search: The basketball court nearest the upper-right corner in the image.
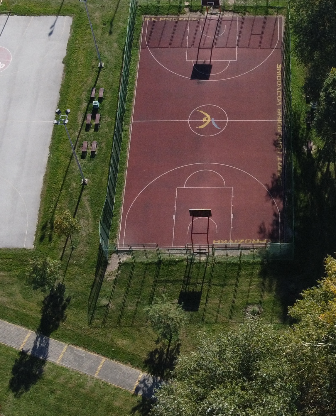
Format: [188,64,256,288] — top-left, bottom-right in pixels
[114,14,289,252]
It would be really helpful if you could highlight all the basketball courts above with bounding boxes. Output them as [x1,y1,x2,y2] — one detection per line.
[114,14,289,252]
[0,16,72,248]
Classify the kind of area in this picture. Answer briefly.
sports ground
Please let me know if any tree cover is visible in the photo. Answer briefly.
Yes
